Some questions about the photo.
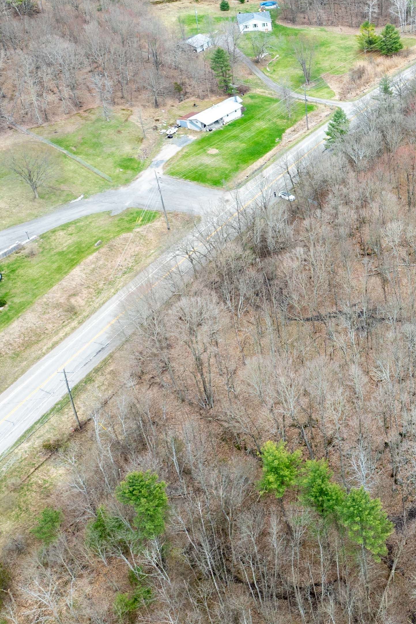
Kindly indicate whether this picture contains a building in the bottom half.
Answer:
No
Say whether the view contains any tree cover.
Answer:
Yes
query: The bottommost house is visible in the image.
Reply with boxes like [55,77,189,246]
[178,100,247,132]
